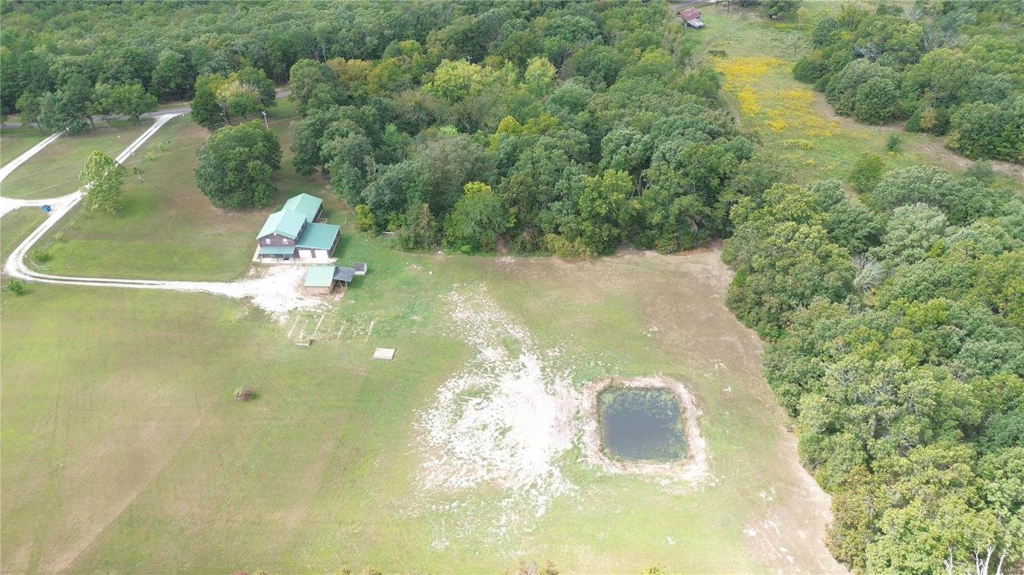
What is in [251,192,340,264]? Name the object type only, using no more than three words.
house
